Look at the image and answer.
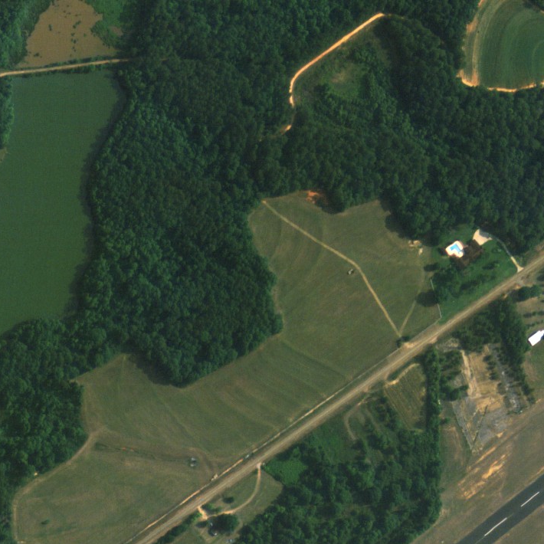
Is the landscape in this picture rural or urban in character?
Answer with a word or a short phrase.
rural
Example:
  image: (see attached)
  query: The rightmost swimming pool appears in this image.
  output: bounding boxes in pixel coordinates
[445,241,463,256]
